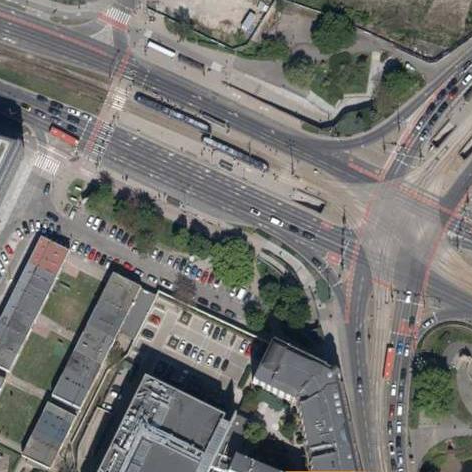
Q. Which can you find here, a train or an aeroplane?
train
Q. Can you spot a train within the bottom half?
No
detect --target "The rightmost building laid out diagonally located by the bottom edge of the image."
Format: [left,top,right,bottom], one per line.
[252,335,364,472]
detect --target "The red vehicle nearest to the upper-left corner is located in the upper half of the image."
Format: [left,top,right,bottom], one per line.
[49,126,79,145]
